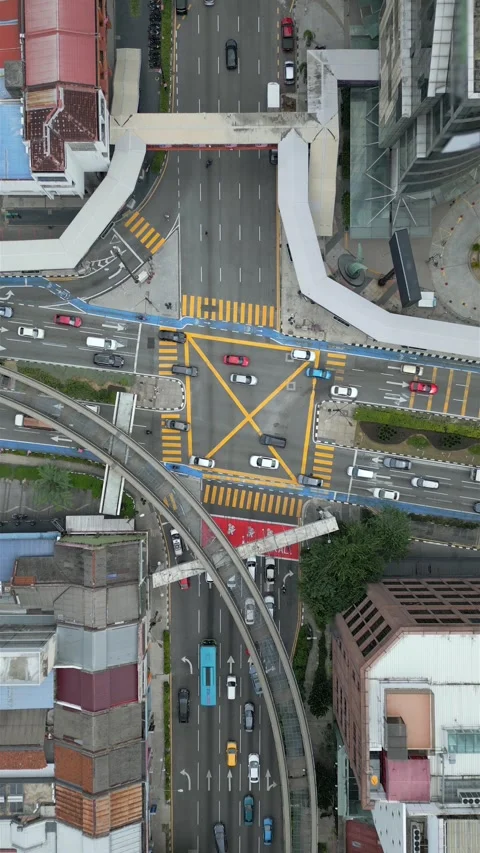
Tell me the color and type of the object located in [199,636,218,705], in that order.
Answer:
blue vehicle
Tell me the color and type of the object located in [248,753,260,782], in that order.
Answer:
white vehicle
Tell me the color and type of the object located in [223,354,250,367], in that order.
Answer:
red vehicle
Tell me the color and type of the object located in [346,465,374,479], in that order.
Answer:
white vehicle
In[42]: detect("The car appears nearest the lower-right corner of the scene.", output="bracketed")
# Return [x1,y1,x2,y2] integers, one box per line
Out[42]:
[262,817,274,844]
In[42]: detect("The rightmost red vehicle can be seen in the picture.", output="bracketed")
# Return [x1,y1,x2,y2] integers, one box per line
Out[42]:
[408,381,438,394]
